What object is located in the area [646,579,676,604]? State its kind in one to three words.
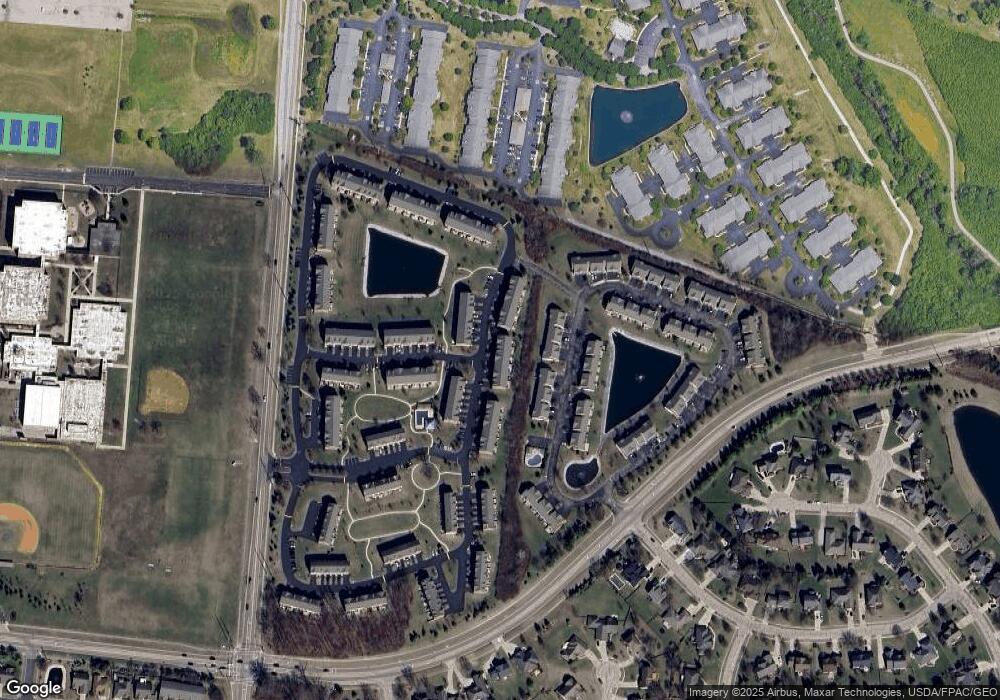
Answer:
house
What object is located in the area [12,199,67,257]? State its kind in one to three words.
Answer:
building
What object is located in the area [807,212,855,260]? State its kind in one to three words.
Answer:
house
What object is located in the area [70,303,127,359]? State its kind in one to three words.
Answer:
building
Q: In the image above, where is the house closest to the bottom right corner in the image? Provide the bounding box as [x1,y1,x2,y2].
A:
[952,662,981,687]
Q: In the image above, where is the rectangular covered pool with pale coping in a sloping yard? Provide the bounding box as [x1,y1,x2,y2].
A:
[608,573,626,591]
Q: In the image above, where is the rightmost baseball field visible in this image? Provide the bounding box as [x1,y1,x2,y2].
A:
[142,368,189,419]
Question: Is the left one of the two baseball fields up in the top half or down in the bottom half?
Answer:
bottom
